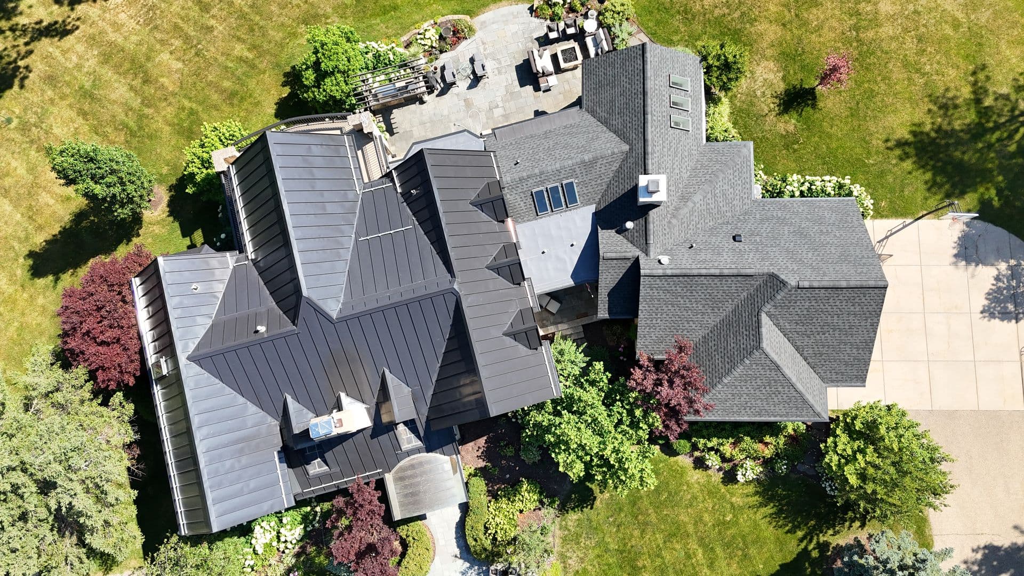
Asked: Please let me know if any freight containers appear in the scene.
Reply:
No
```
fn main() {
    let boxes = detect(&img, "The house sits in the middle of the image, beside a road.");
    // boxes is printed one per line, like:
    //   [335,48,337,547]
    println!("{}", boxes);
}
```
[127,43,888,536]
